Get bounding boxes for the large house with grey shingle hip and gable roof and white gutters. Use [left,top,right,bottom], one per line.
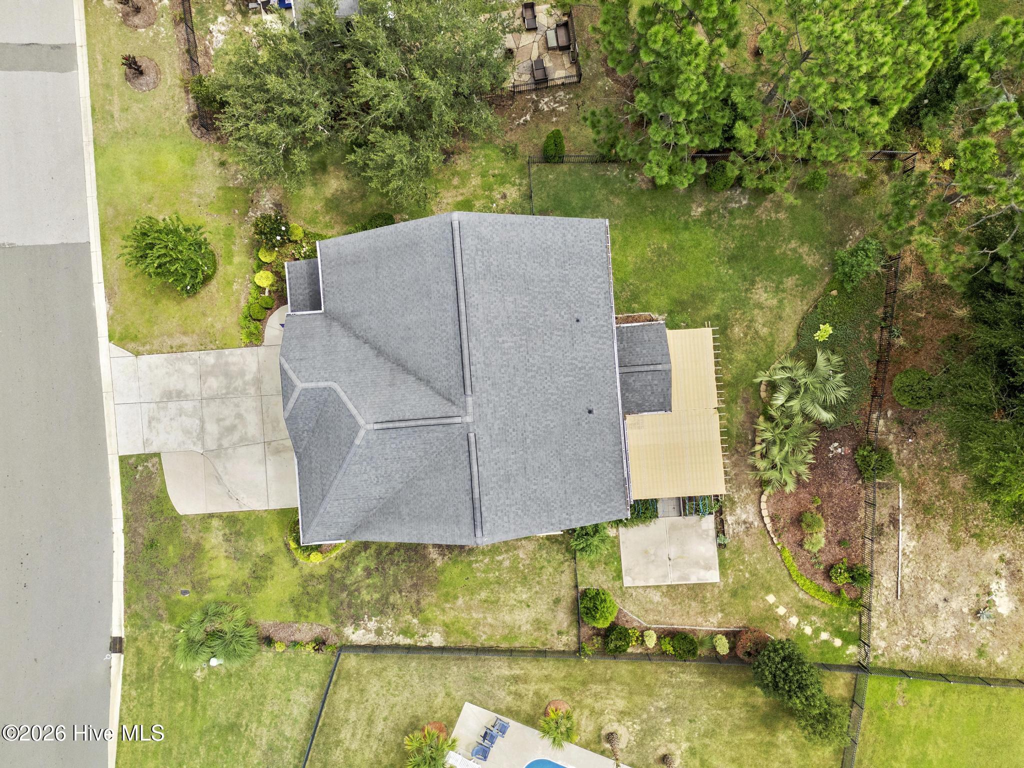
[278,212,672,548]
